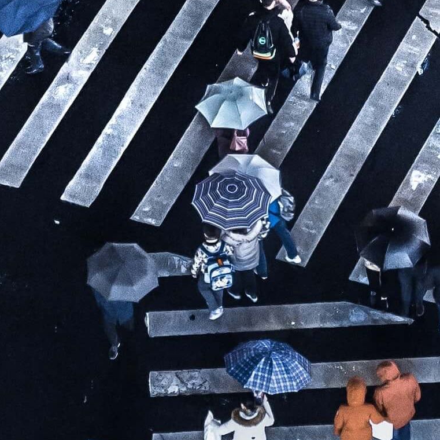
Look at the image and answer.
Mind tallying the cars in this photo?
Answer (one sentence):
Not a single car can be seen.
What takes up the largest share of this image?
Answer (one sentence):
The largest share of the image is taken up by paved ground.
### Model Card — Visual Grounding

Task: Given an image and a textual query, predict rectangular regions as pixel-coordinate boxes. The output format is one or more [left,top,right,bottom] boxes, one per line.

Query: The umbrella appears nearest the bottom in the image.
[223,337,312,409]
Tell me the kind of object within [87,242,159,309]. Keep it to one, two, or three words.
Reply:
umbrella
